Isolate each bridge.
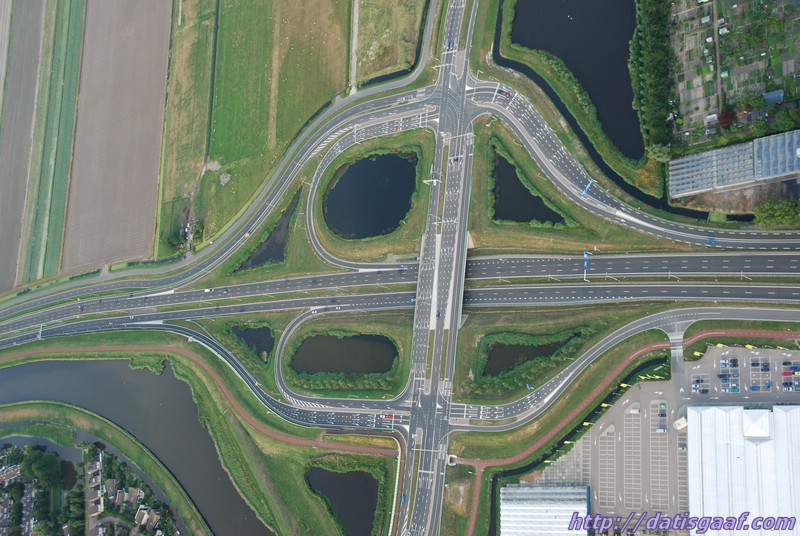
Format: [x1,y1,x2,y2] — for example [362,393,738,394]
[412,230,474,334]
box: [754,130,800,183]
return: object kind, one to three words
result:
greenhouse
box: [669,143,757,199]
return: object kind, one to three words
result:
greenhouse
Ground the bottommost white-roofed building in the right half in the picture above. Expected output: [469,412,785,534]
[500,488,595,536]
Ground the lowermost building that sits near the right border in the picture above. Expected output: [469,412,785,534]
[688,405,800,536]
